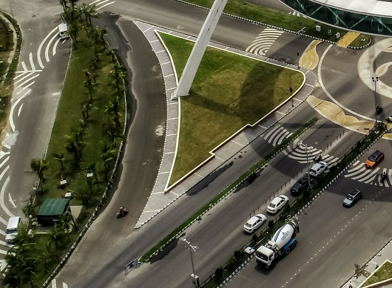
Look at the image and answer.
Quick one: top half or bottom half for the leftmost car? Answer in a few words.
bottom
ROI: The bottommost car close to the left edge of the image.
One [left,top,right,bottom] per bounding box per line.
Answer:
[2,209,23,238]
